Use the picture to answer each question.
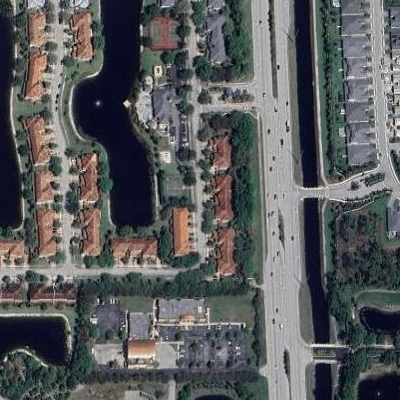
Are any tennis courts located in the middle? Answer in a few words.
Yes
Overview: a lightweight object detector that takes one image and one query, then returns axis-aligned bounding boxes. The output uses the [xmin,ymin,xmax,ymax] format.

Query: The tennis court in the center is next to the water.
[160,174,189,204]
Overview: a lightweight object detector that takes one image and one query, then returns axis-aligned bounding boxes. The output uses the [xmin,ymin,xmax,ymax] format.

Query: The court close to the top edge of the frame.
[150,17,180,49]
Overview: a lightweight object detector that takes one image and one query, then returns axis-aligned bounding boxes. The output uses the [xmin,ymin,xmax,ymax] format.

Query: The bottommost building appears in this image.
[128,340,155,359]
